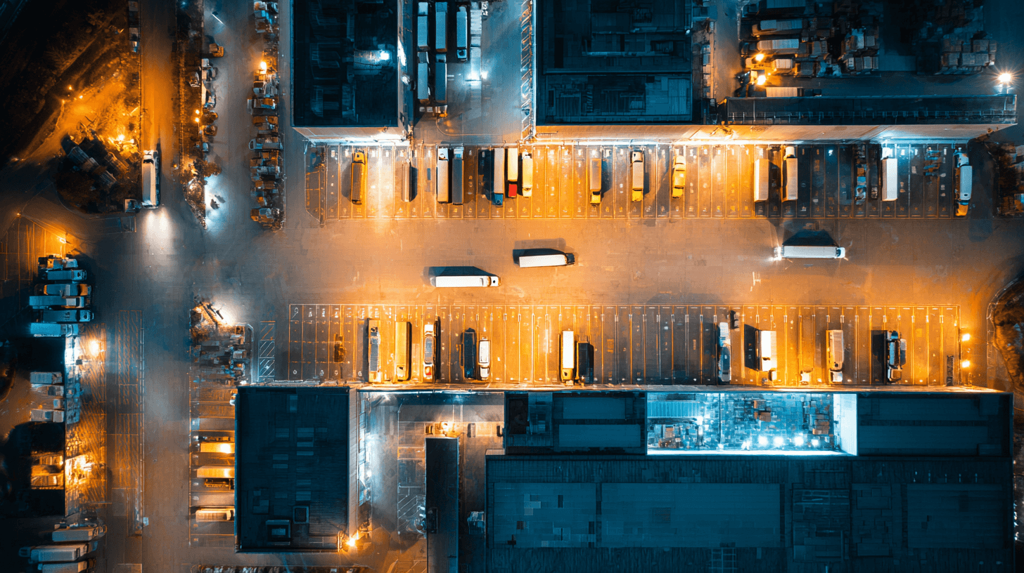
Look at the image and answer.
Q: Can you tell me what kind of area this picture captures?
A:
industrial area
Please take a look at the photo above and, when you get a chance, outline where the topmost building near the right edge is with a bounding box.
[681,96,1016,145]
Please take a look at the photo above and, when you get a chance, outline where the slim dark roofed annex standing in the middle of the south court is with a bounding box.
[426,433,460,573]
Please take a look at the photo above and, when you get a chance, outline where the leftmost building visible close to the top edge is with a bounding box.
[292,0,407,145]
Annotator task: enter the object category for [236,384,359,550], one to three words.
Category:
warehouse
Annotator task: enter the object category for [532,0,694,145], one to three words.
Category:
warehouse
